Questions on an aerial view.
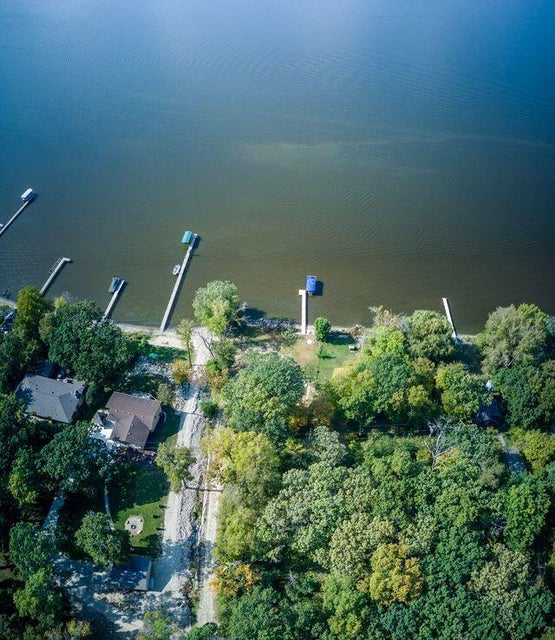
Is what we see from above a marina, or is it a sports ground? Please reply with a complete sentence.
It's a marina.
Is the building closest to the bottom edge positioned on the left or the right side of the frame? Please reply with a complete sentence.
The building closest to the bottom edge is on the left side of the image.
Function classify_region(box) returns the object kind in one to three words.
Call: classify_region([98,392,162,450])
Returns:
house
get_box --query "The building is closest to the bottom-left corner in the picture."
[114,554,152,591]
